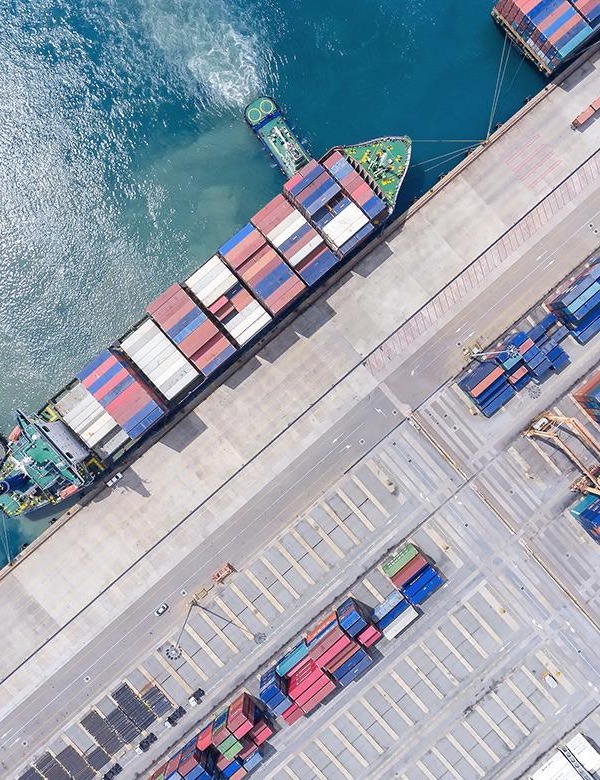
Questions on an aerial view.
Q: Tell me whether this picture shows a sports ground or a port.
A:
port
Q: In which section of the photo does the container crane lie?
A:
right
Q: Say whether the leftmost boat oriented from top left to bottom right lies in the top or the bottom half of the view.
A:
top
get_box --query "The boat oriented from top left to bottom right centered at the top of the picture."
[244,98,311,181]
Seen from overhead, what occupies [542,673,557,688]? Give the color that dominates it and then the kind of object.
white vehicle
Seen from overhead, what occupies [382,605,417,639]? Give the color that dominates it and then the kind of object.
white shipping container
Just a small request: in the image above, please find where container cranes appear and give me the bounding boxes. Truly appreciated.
[522,411,600,498]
